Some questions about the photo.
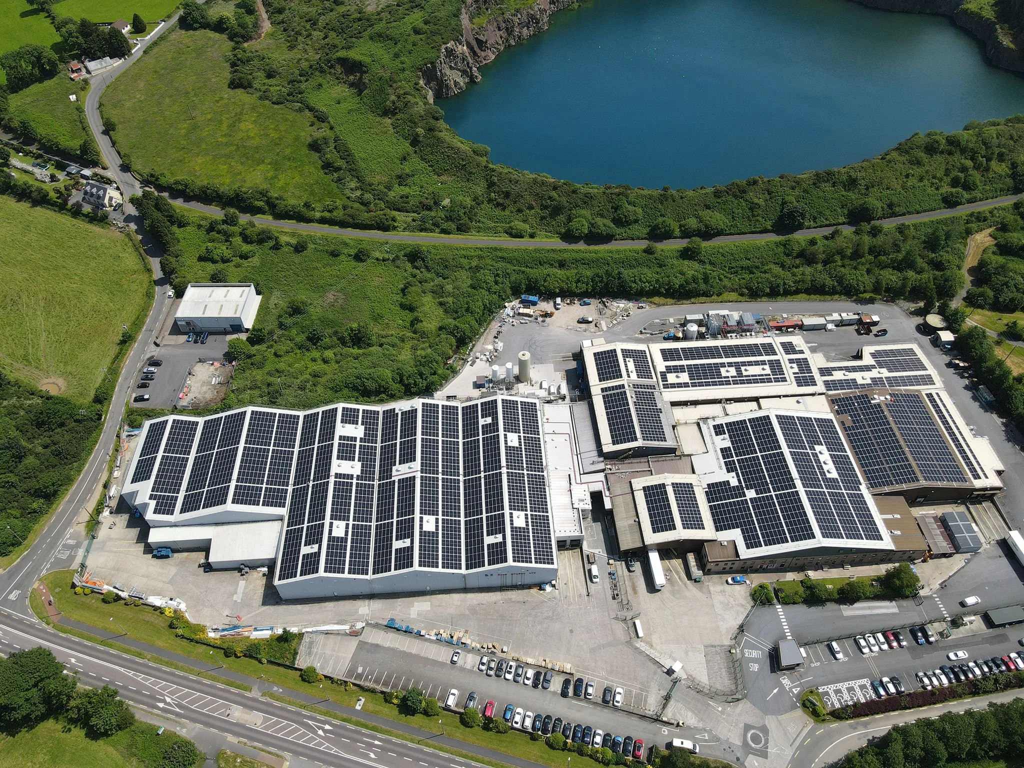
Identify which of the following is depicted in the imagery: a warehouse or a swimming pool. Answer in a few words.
warehouse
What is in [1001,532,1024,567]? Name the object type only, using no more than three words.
vehicle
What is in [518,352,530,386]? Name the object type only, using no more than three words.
silo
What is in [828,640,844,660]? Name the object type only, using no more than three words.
car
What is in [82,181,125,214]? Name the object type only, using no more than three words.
house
